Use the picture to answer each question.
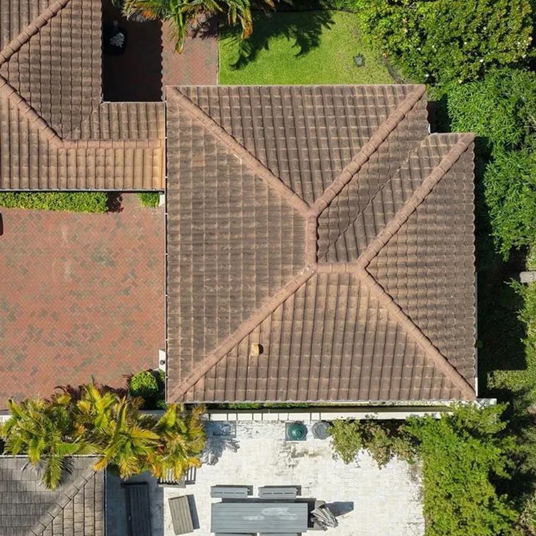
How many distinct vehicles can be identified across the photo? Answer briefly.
none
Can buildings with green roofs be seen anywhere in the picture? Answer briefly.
No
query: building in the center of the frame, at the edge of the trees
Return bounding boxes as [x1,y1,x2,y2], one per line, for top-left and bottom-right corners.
[161,81,480,405]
